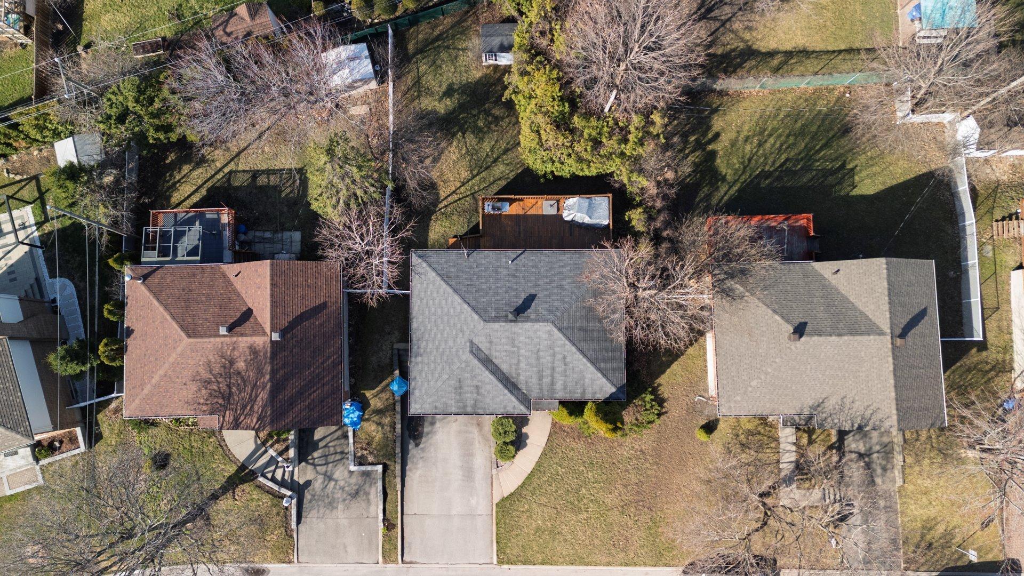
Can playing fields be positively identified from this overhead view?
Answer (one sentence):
No, there's no playing field here.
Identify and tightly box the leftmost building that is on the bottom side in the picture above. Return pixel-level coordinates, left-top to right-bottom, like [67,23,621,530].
[0,295,80,468]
